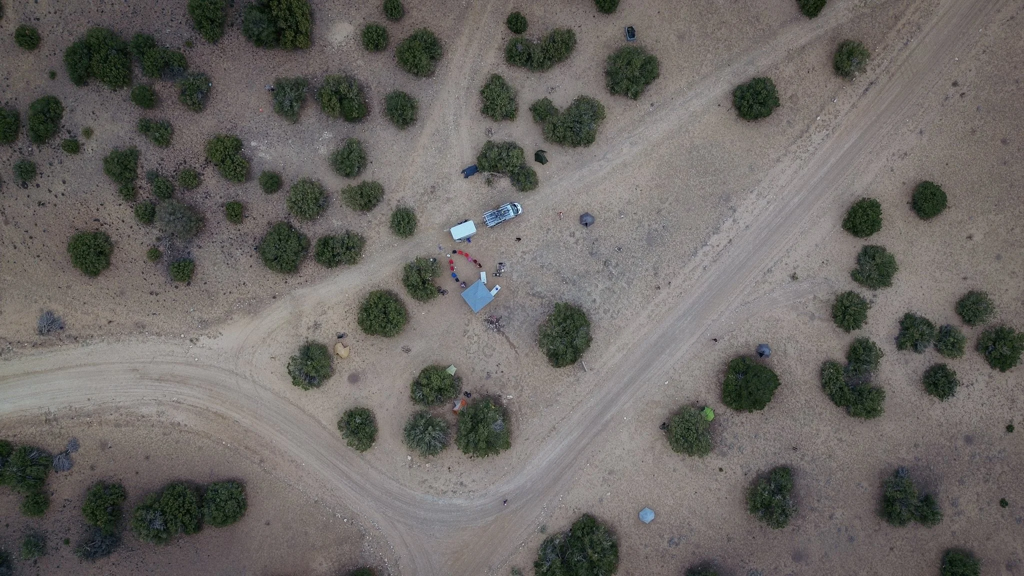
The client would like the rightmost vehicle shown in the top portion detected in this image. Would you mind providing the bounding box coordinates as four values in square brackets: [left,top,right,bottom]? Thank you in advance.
[483,201,523,228]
